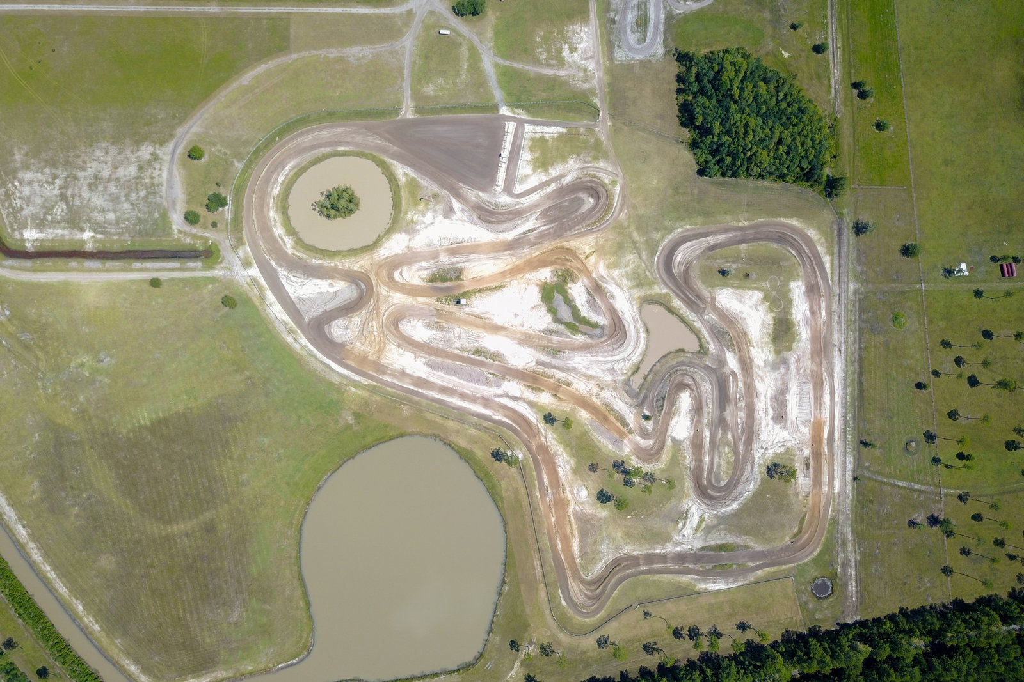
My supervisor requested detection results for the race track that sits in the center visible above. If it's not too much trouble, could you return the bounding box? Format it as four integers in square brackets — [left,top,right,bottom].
[240,115,837,619]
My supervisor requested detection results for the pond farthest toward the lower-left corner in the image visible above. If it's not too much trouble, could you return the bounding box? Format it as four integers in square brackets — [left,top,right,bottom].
[234,435,507,682]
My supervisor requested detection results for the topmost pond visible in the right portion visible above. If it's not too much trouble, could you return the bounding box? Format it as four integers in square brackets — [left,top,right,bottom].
[633,303,698,389]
